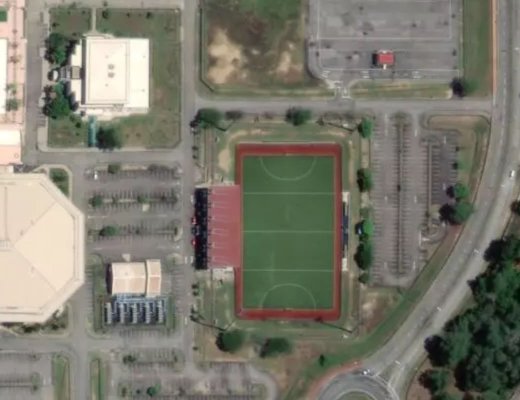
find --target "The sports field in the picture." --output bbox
[235,144,342,321]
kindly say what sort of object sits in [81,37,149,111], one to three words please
building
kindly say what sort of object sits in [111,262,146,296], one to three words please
building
